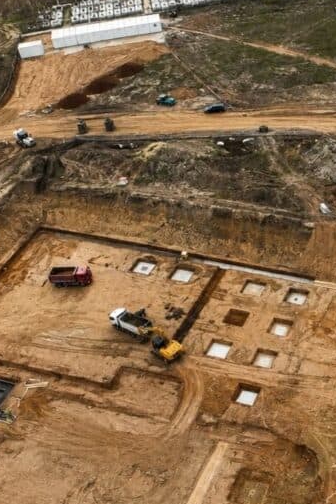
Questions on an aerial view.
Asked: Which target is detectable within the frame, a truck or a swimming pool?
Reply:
truck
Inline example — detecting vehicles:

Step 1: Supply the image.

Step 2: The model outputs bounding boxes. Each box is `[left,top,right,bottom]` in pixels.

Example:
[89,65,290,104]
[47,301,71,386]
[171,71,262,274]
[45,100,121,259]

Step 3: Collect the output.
[75,118,89,133]
[154,94,176,105]
[43,264,91,284]
[101,119,117,131]
[12,128,33,145]
[108,307,153,339]
[147,320,183,360]
[204,102,225,112]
